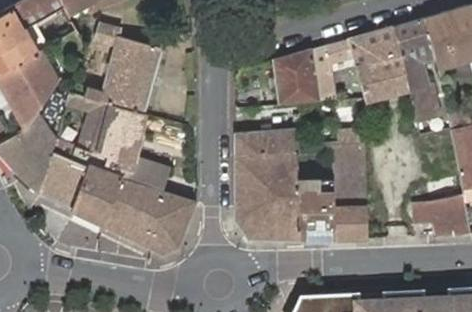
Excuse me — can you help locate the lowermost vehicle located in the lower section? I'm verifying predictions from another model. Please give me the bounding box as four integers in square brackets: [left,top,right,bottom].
[248,272,270,285]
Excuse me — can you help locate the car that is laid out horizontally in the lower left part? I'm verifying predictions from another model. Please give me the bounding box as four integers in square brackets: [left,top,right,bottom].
[52,256,75,268]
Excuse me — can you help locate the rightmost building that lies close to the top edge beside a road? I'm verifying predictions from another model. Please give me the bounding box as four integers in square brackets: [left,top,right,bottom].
[426,6,472,76]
